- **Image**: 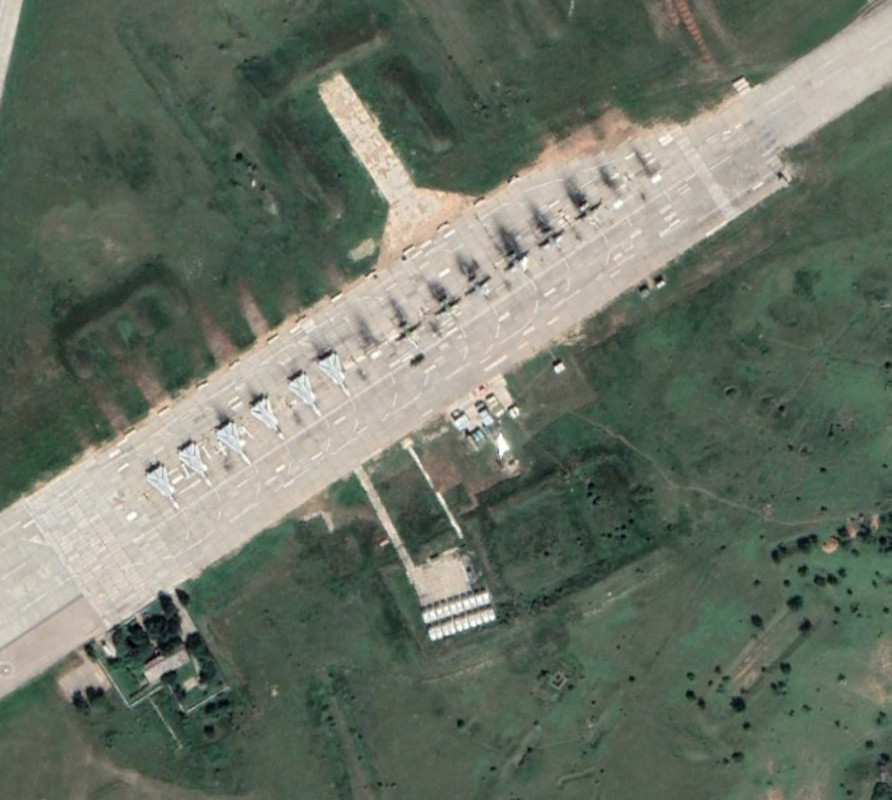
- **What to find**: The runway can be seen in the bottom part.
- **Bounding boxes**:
[0,497,105,701]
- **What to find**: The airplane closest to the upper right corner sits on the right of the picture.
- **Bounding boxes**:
[577,199,603,227]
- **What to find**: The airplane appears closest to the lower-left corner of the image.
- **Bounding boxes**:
[146,466,177,508]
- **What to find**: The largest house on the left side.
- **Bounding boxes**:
[143,649,190,688]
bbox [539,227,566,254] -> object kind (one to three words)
airplane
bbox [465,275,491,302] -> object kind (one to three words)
airplane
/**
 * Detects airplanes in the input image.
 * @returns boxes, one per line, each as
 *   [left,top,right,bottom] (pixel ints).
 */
[504,250,530,277]
[179,443,210,485]
[396,322,422,349]
[321,352,349,396]
[436,296,462,323]
[217,424,250,464]
[465,275,491,302]
[290,374,321,417]
[577,199,603,227]
[146,466,177,508]
[539,227,566,254]
[252,397,284,439]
